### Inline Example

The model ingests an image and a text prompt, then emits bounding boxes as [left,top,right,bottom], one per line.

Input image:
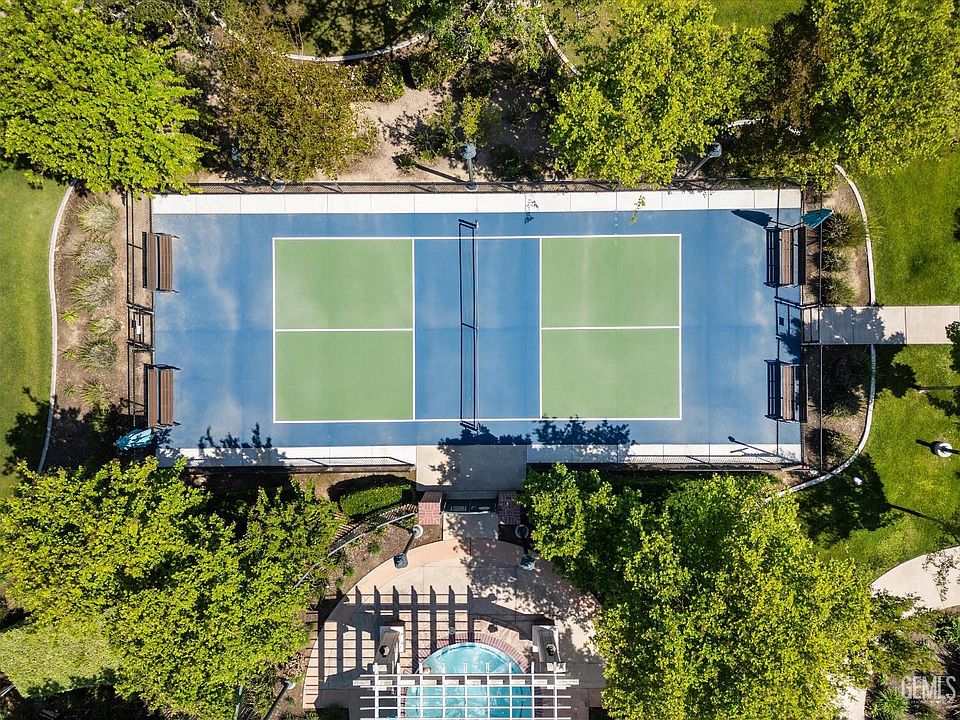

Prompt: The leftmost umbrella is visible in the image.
[116,425,168,446]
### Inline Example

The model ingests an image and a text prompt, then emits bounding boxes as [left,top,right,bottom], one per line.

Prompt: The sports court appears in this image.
[153,209,803,447]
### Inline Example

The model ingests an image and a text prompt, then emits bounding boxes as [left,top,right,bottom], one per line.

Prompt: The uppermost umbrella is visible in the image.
[796,208,835,230]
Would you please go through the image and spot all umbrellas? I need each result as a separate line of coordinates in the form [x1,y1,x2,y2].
[116,425,168,446]
[796,208,835,230]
